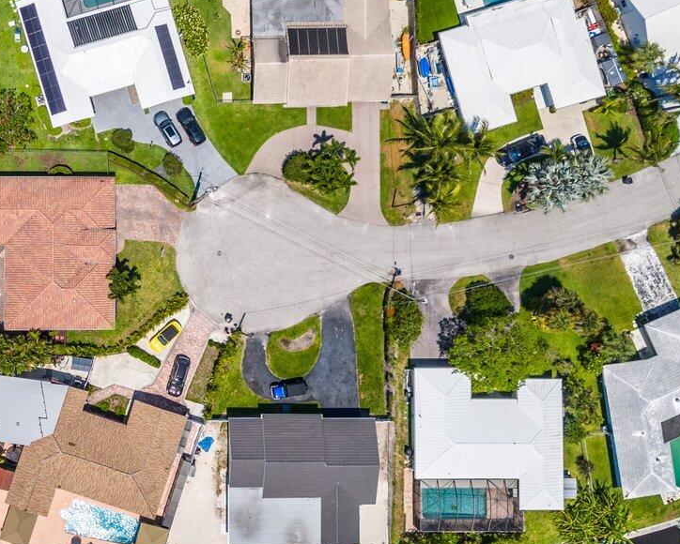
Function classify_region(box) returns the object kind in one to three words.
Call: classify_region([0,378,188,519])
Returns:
house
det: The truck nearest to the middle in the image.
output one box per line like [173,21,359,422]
[268,376,311,399]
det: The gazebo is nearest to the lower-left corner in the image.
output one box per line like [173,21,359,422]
[1,505,38,544]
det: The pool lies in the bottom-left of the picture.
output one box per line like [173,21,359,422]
[59,498,141,544]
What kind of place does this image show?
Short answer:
residential area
